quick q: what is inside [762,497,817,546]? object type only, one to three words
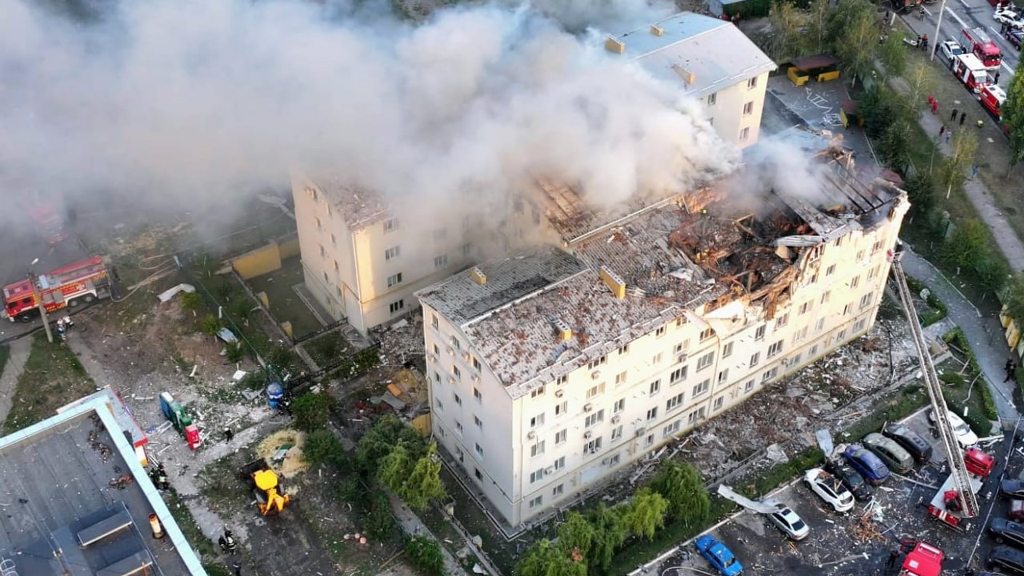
car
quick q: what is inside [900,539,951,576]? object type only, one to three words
truck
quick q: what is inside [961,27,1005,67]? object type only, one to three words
truck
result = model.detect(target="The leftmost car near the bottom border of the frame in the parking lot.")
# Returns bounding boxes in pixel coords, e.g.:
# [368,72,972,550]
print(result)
[692,532,747,576]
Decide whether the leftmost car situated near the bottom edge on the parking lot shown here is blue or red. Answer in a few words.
blue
